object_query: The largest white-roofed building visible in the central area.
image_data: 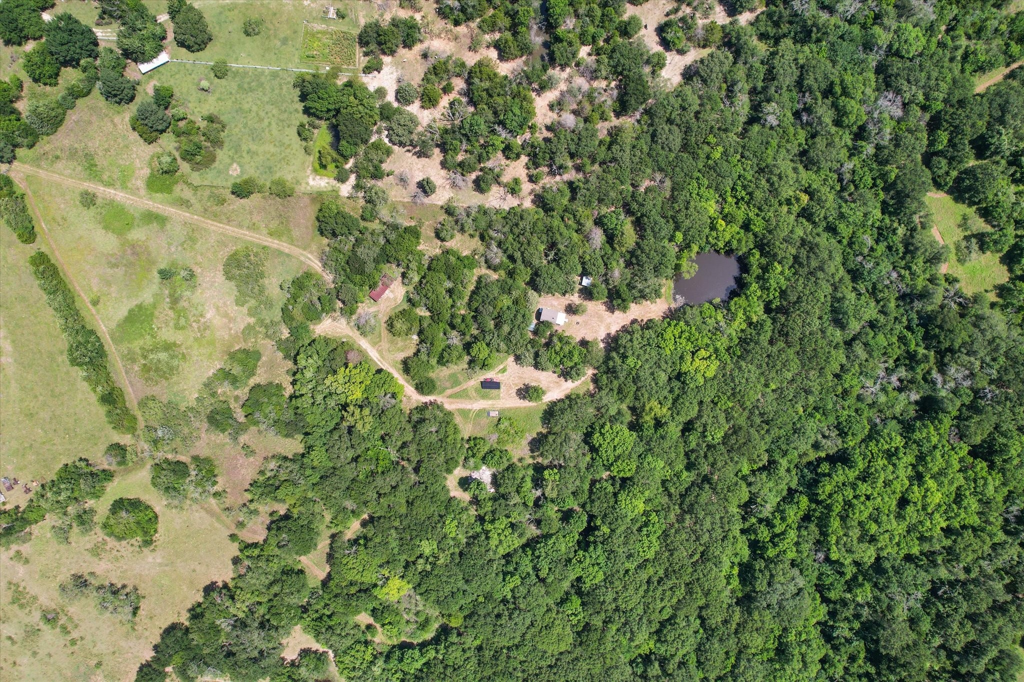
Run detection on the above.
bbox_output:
[539,307,566,326]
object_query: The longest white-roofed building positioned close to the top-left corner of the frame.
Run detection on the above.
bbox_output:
[138,51,172,76]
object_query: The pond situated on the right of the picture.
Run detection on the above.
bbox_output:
[673,251,740,306]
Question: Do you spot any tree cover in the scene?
Yes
